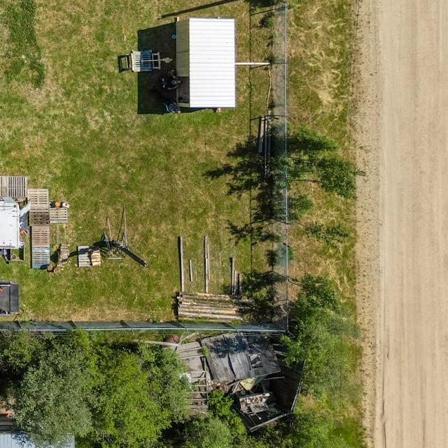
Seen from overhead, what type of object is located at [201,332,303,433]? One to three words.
building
